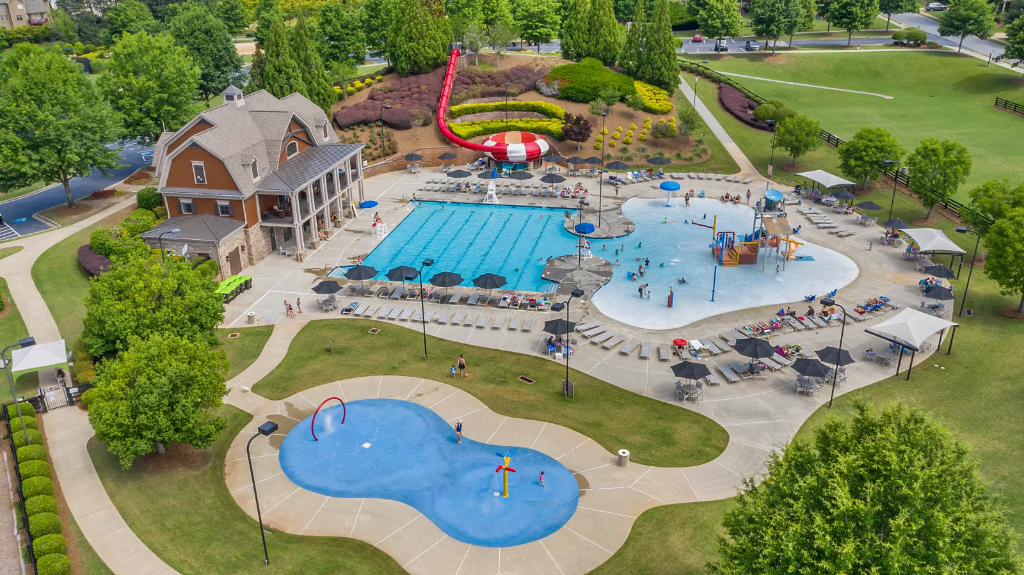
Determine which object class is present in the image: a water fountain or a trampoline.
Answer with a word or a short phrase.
water fountain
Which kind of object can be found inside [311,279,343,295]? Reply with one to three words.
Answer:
umbrella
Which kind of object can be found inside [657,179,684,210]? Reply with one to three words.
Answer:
fountain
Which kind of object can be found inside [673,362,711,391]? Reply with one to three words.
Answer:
umbrella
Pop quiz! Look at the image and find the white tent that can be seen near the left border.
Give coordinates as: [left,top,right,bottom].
[11,341,73,400]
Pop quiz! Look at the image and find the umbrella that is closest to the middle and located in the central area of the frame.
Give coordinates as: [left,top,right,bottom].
[474,272,508,306]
